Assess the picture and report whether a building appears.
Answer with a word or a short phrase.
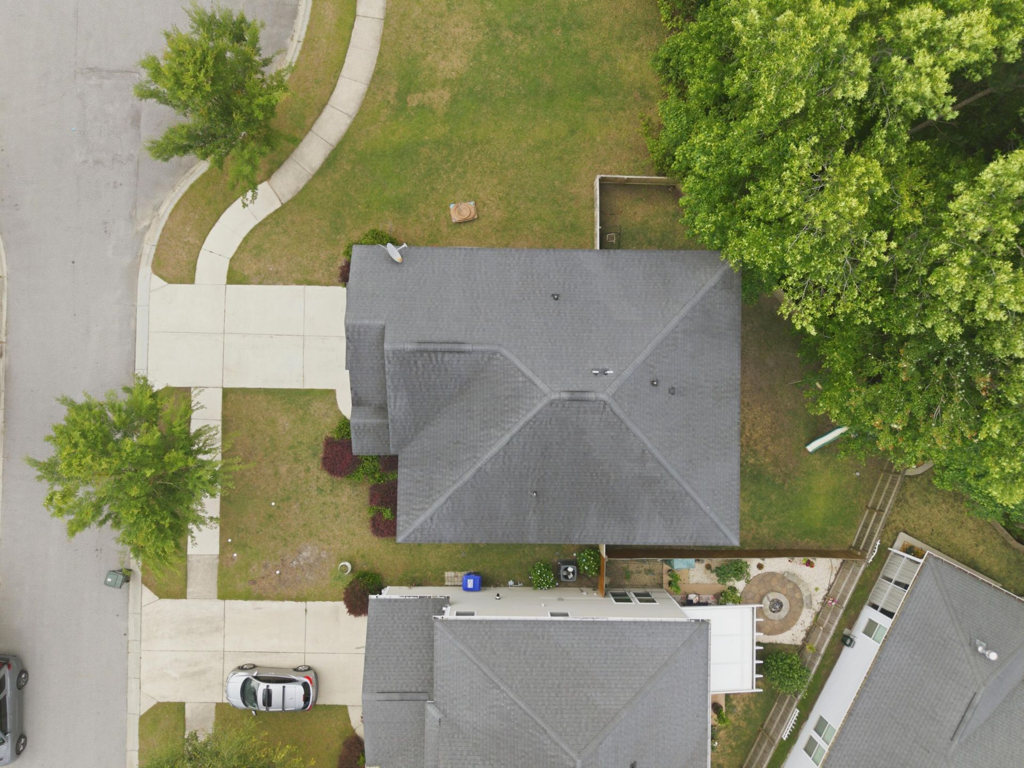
Yes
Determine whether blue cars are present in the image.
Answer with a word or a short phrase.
No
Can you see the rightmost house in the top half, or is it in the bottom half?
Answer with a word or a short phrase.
bottom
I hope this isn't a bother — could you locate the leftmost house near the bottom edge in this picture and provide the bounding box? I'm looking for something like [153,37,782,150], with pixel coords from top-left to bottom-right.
[362,583,713,768]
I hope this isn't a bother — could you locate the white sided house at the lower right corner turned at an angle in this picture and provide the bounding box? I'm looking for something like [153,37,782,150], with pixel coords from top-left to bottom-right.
[789,549,1024,768]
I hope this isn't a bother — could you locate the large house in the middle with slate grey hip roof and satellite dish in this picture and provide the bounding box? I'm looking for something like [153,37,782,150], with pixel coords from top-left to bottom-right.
[345,245,741,546]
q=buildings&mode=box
[362,583,713,768]
[789,549,1024,768]
[345,245,741,546]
